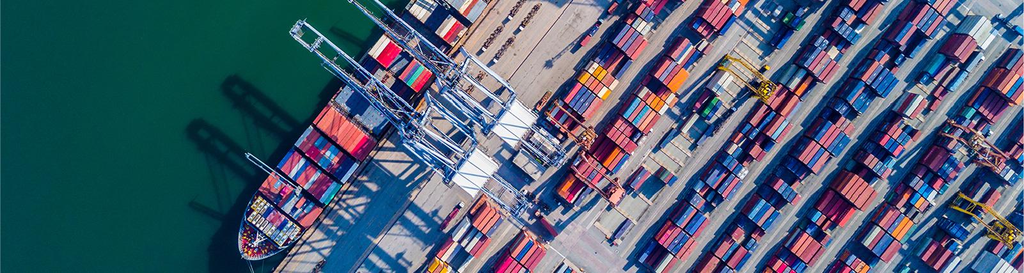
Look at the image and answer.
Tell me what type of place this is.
port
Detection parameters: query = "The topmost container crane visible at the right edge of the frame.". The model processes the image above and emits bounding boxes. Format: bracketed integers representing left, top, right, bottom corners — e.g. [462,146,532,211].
[930,119,1017,173]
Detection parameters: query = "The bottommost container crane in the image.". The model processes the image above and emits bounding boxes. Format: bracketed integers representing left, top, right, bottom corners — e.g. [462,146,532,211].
[941,191,1024,250]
